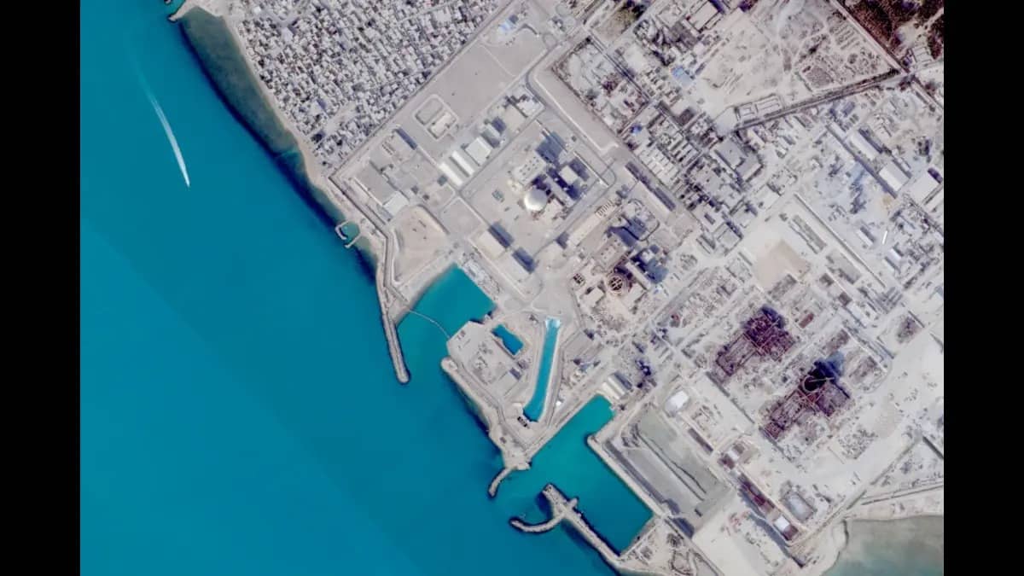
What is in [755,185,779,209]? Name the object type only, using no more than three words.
building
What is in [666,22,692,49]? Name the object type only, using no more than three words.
building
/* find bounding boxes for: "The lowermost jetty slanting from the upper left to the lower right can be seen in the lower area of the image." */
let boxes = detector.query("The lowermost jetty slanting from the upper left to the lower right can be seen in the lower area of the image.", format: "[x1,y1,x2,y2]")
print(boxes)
[545,485,624,570]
